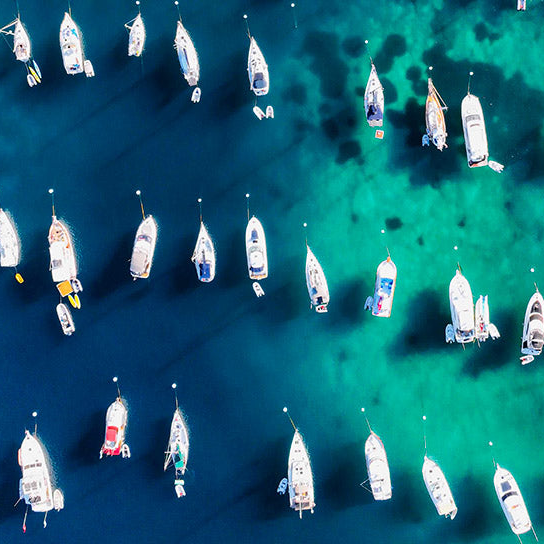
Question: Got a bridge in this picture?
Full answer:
No, this view has no bridge in it.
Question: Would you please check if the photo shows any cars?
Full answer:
No, there's no car here.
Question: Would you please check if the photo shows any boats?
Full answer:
Yes, looking at the shot, I can spot a boat.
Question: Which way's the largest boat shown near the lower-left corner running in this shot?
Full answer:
The largest boat shown near the lower-left corner runs up and down in the image.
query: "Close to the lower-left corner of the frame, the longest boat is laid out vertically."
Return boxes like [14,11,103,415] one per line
[17,432,53,531]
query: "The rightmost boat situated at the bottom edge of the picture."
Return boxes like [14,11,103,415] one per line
[497,467,535,542]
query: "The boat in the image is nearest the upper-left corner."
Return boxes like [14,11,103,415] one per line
[1,18,31,63]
